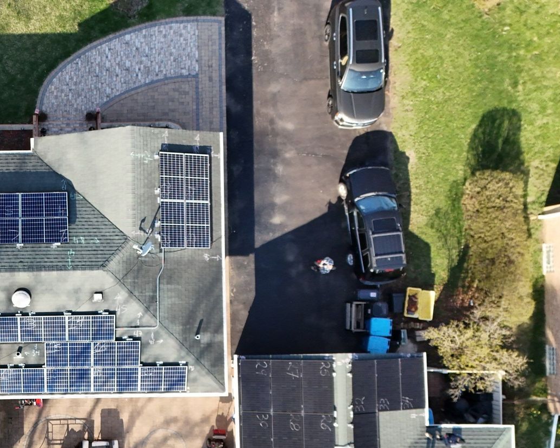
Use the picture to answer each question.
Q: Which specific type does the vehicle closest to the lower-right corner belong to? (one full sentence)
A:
The vehicle closest to the lower-right corner in the image is an automobile.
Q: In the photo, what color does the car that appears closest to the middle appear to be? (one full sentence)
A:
In this view, the car that appears closest to the middle is black.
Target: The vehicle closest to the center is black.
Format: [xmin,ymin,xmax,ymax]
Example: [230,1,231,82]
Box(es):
[337,169,410,289]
